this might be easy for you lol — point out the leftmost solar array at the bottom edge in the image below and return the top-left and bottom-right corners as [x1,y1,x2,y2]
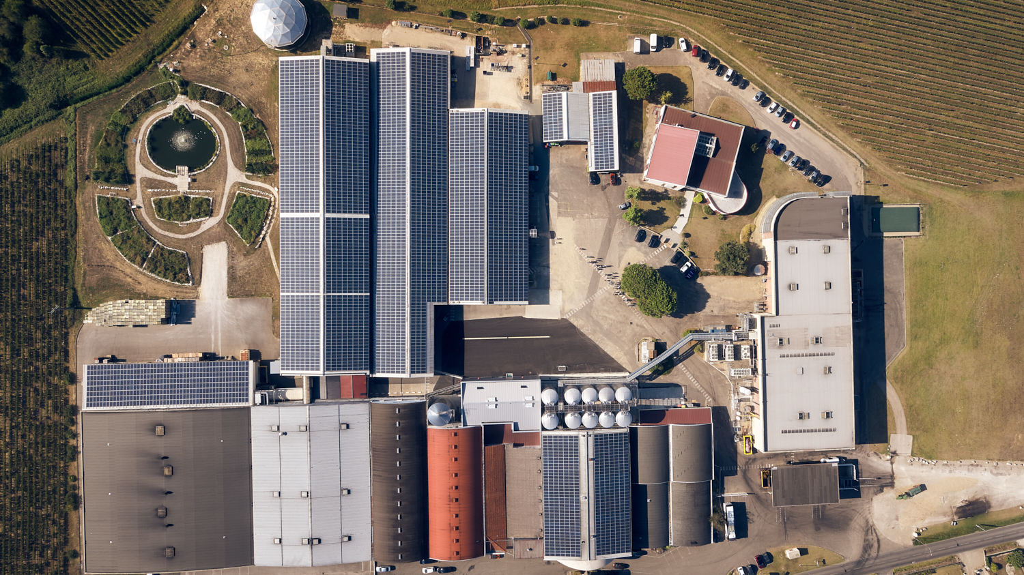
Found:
[543,435,580,556]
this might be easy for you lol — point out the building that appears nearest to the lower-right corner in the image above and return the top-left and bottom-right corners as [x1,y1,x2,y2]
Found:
[838,461,858,491]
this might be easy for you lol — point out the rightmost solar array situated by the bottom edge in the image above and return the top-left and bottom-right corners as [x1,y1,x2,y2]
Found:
[595,433,630,555]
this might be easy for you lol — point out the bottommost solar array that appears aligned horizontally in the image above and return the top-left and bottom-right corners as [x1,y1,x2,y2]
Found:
[86,362,249,406]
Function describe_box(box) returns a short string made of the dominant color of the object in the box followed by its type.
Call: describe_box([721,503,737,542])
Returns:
white vehicle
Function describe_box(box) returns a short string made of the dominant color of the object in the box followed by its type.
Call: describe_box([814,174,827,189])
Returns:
black vehicle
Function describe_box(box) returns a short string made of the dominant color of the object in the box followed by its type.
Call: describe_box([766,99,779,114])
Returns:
white vehicle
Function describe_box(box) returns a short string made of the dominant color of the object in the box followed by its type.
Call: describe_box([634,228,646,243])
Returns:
black vehicle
